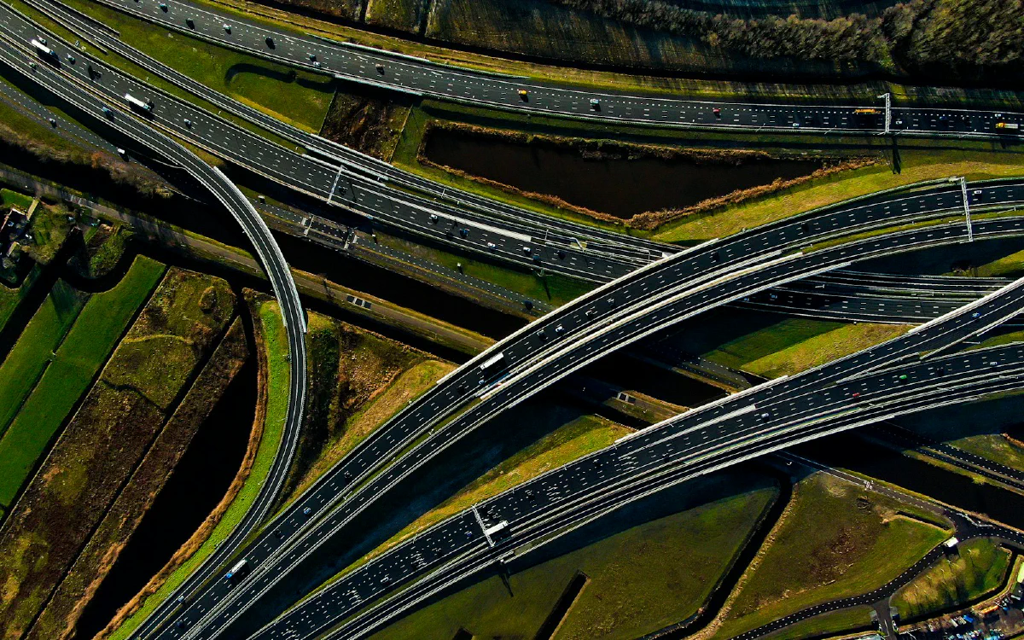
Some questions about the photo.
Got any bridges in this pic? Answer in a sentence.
Yes, the photo shows a bridge.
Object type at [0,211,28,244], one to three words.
house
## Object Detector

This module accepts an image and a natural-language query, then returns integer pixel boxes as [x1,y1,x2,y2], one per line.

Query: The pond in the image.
[422,125,827,217]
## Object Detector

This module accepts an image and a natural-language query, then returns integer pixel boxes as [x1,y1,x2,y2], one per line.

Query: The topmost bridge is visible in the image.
[321,38,433,94]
